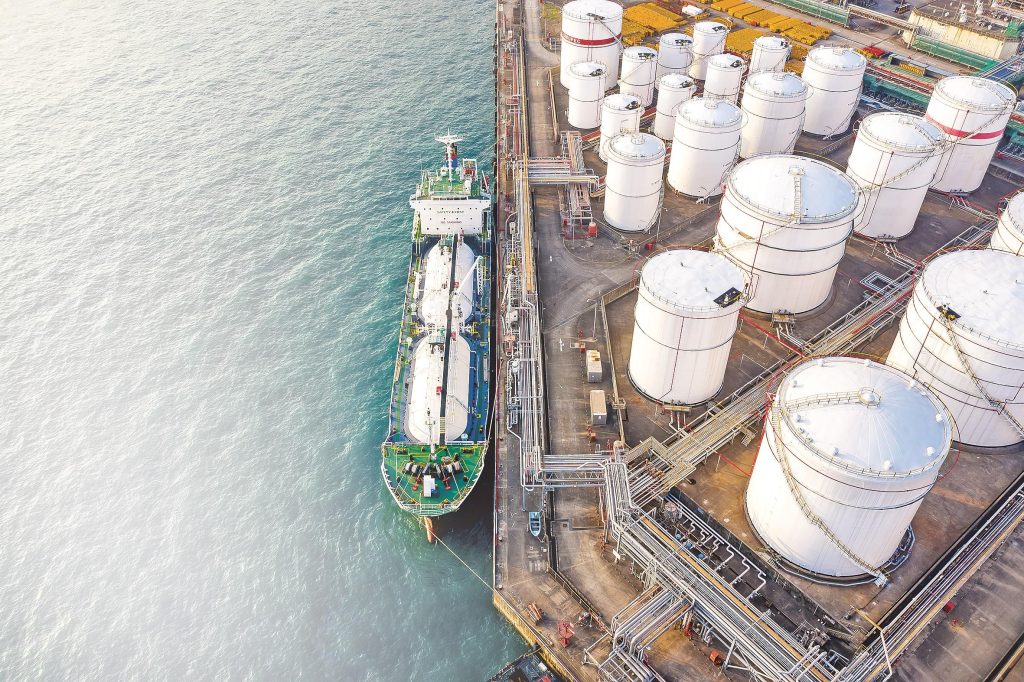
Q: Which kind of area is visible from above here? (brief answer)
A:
industrial area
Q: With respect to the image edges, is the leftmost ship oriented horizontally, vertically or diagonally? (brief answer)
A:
vertically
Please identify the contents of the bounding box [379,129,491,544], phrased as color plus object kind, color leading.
white ship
